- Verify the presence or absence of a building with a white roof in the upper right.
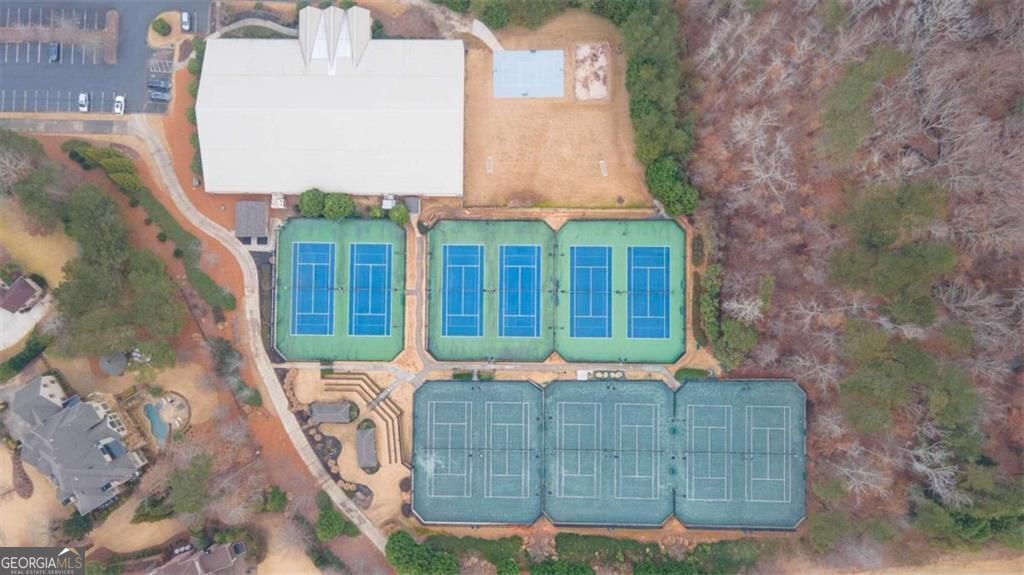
No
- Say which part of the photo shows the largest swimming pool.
bottom left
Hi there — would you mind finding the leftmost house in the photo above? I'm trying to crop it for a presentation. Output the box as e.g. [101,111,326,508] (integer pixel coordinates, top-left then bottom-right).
[0,274,51,318]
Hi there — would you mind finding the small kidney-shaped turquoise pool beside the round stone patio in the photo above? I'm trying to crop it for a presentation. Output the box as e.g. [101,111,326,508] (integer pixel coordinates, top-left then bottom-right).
[144,401,170,443]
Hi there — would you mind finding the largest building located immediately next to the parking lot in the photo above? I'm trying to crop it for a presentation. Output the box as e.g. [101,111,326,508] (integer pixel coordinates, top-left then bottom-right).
[195,5,463,197]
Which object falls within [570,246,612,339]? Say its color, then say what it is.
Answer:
blue tennis court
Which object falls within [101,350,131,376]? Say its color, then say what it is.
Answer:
gray gazebo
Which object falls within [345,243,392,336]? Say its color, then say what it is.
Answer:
blue tennis court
